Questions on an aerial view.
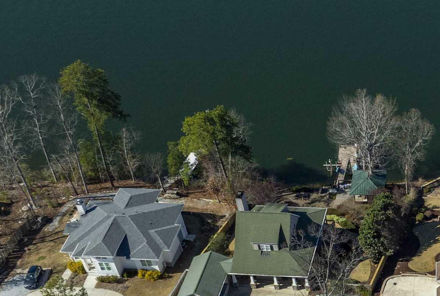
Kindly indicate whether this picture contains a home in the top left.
No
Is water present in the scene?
Yes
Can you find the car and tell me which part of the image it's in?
bottom left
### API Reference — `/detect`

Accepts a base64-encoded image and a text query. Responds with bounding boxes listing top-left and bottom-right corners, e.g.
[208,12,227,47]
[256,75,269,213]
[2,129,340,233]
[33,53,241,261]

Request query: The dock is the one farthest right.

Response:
[331,141,362,185]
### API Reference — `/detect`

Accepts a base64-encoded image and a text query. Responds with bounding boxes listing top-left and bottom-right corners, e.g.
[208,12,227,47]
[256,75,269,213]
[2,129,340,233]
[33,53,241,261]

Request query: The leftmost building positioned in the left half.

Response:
[57,188,193,279]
